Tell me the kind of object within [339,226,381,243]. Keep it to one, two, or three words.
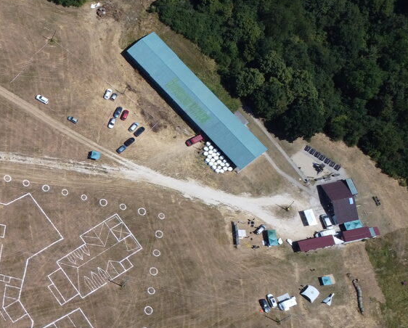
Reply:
shed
